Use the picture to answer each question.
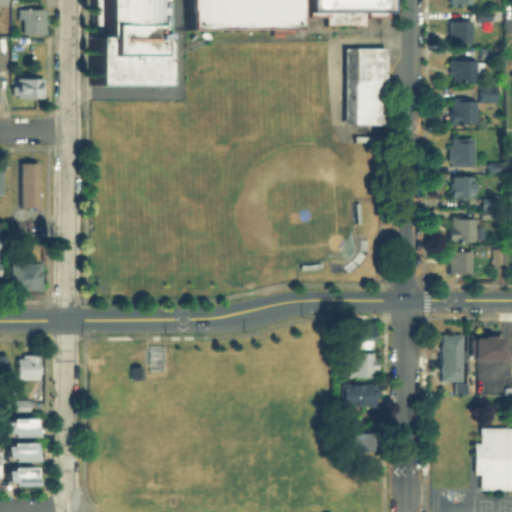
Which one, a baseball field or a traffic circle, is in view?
baseball field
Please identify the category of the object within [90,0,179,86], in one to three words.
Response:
building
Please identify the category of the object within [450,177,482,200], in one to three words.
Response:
house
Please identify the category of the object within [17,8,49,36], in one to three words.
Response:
house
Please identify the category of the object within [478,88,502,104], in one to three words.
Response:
building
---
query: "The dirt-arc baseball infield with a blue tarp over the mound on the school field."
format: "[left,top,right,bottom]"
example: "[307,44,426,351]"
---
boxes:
[232,143,346,256]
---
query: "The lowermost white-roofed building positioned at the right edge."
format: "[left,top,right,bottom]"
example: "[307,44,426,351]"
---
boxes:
[472,428,512,492]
